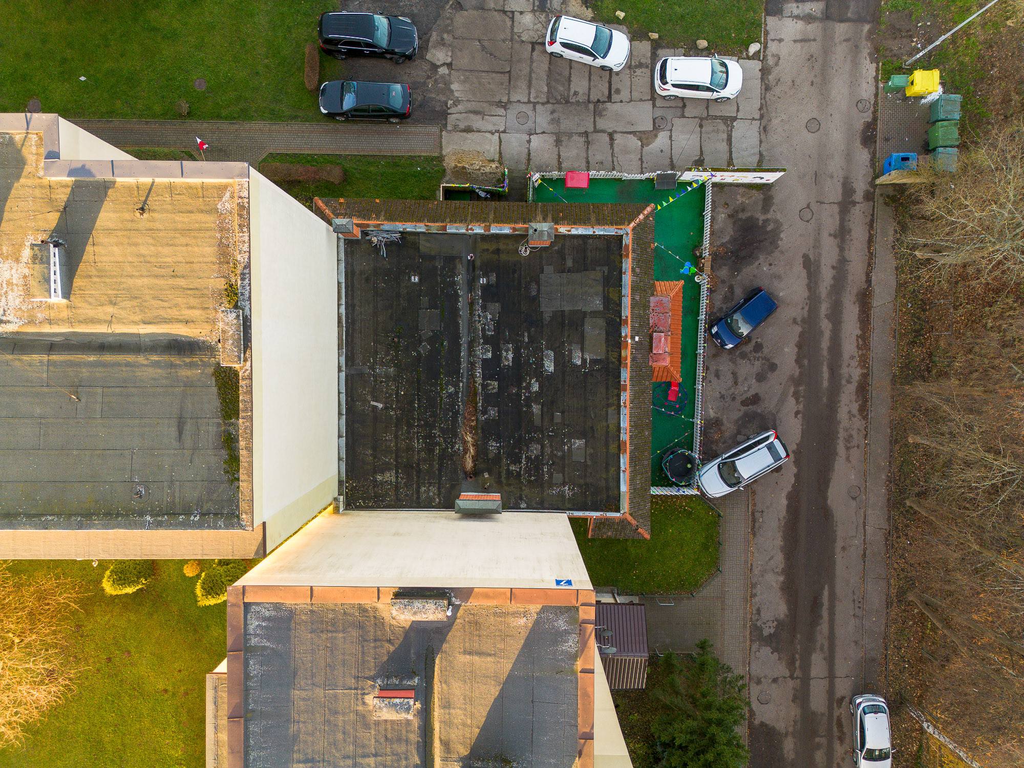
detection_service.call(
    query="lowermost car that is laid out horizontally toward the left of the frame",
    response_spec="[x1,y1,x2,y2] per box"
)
[321,80,412,124]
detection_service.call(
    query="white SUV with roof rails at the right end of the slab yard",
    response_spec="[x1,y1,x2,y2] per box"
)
[654,57,741,103]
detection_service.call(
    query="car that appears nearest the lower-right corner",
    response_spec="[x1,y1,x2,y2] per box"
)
[845,692,890,768]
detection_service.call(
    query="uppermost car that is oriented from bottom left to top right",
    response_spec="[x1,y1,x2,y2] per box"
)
[708,287,784,349]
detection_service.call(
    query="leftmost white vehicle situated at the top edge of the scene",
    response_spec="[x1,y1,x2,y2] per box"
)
[545,17,629,74]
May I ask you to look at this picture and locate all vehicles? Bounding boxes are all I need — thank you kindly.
[698,430,790,498]
[845,692,890,768]
[319,13,416,66]
[654,57,741,103]
[545,17,629,74]
[321,80,412,124]
[708,287,784,349]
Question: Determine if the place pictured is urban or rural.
urban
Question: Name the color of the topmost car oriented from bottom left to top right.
blue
